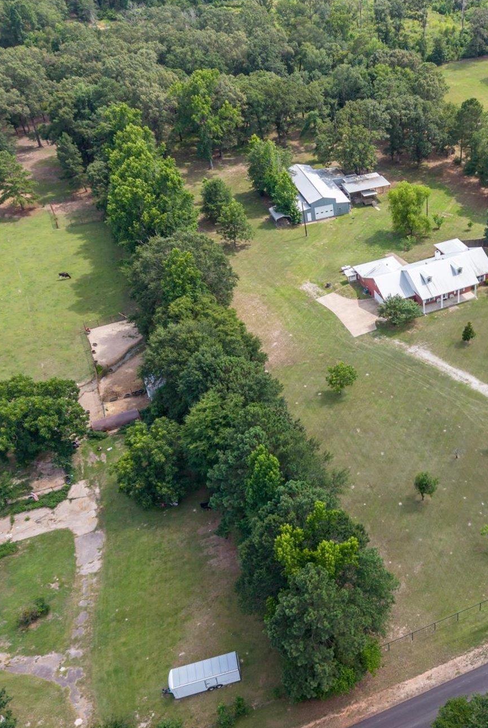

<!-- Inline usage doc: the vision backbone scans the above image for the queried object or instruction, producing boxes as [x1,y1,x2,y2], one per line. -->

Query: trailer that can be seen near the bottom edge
[158,650,238,697]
